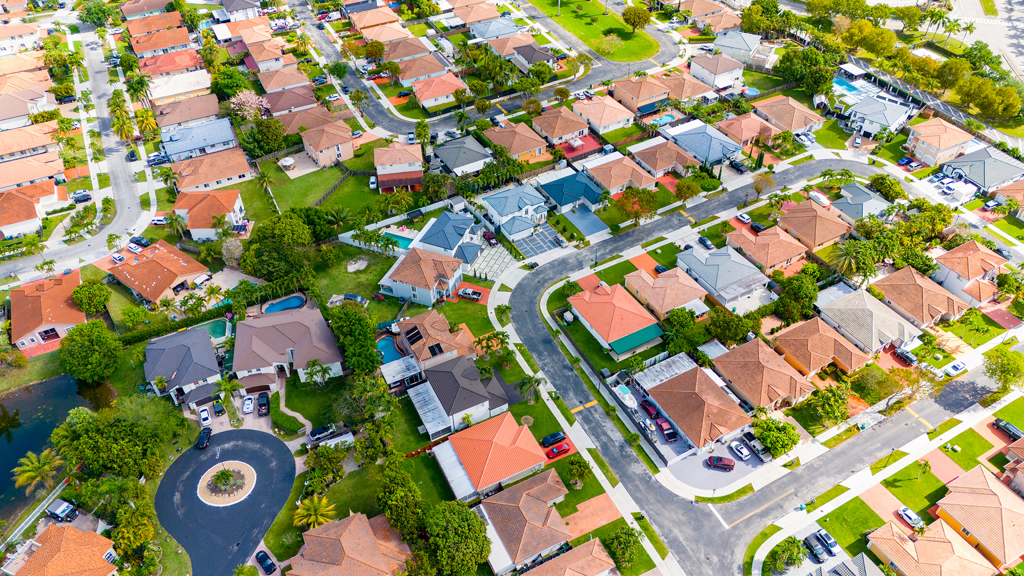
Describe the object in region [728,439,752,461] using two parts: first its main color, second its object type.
white car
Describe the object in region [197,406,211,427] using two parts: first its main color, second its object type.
white car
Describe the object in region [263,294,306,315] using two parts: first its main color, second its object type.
blue swimming pool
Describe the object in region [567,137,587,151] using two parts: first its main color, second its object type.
white gazebo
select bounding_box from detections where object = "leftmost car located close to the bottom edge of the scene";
[254,549,278,576]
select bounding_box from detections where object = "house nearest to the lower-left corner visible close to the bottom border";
[10,522,118,576]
